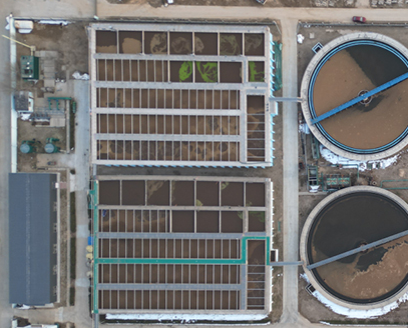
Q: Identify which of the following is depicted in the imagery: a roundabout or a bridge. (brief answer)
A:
bridge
